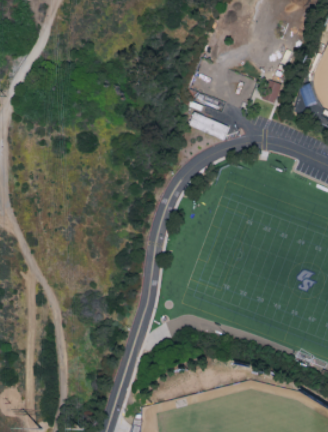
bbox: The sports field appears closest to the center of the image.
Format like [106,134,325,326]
[154,154,328,361]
